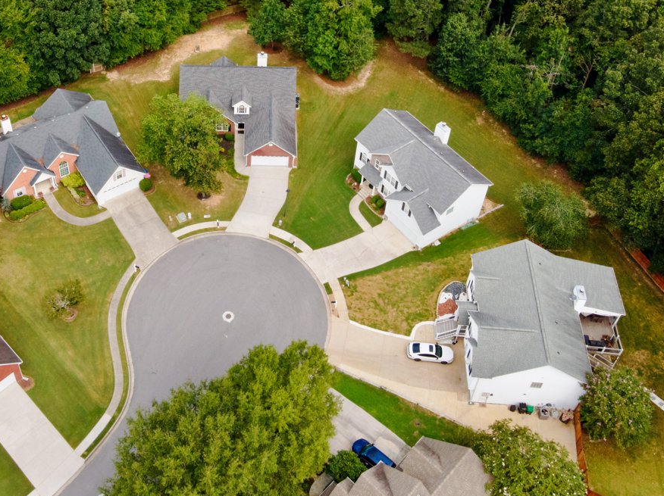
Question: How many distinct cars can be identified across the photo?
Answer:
two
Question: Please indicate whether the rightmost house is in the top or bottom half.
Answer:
bottom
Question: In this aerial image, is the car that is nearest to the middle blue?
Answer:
No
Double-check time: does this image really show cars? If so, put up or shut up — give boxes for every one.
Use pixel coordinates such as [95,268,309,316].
[407,339,456,362]
[353,434,391,460]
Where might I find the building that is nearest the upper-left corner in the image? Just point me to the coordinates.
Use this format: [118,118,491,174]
[0,85,144,207]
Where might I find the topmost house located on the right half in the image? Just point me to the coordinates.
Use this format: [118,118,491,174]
[347,108,491,252]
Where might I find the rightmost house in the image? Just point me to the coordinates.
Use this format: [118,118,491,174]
[421,237,632,412]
